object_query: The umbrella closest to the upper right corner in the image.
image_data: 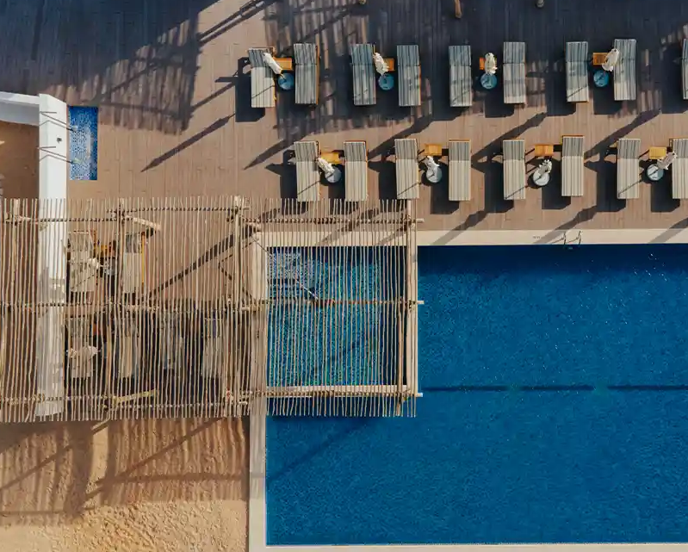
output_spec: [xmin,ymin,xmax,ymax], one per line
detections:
[592,51,614,88]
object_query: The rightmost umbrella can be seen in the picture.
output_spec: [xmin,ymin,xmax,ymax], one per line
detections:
[646,154,674,182]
